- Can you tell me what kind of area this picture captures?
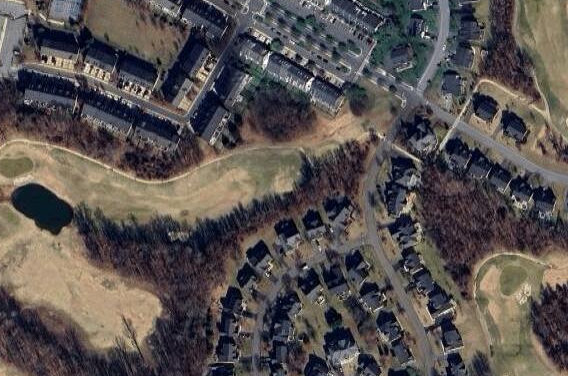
residential area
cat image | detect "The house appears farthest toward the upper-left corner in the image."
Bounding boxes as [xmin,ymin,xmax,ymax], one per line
[36,35,81,65]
